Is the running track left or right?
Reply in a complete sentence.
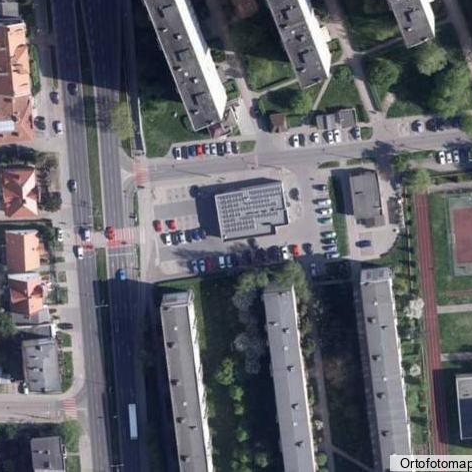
The running track is on the right side of the image.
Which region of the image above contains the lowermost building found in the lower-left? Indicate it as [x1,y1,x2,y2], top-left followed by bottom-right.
[31,430,65,472]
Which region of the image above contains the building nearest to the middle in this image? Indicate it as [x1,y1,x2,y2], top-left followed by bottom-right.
[215,178,289,241]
